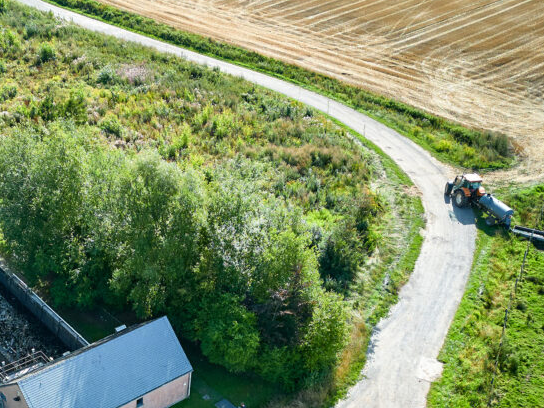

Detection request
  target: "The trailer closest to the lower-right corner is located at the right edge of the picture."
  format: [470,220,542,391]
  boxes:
[478,188,518,226]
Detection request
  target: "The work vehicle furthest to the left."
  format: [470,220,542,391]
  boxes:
[438,176,485,208]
